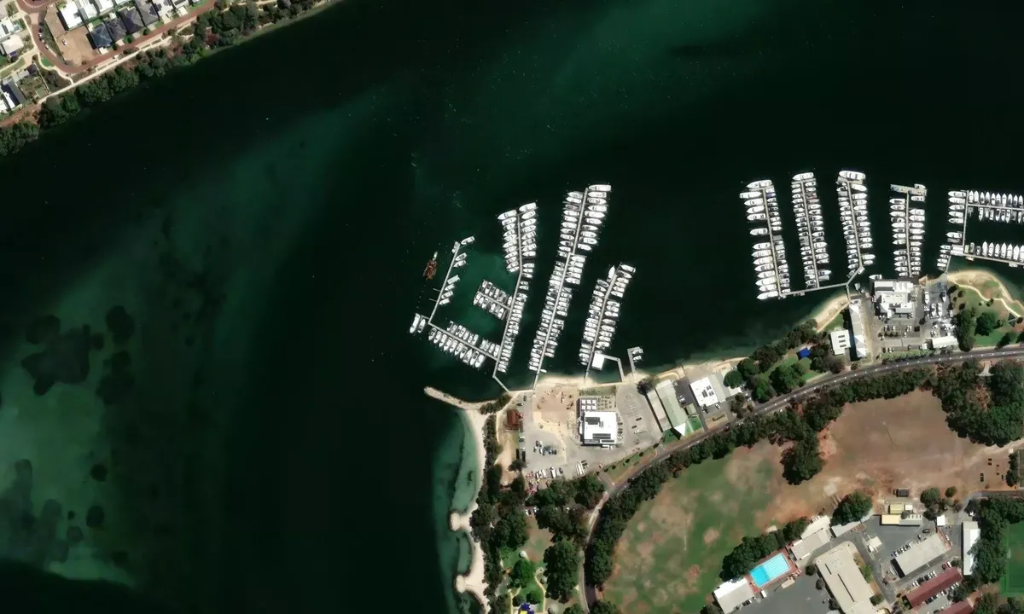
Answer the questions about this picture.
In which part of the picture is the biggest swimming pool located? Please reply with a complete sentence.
The biggest swimming pool is in the bottom right part of the image.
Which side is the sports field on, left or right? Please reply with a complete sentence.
The sports field sits on the right side.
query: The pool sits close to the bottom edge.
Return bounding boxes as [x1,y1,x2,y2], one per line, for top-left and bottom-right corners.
[746,546,801,595]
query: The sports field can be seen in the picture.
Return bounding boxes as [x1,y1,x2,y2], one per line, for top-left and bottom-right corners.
[599,383,1024,614]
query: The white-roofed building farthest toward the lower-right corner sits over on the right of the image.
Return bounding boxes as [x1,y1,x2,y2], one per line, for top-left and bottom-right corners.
[963,522,980,575]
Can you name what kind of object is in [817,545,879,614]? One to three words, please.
building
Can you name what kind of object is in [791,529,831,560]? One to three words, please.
building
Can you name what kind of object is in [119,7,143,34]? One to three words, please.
house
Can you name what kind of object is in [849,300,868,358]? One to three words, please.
shed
